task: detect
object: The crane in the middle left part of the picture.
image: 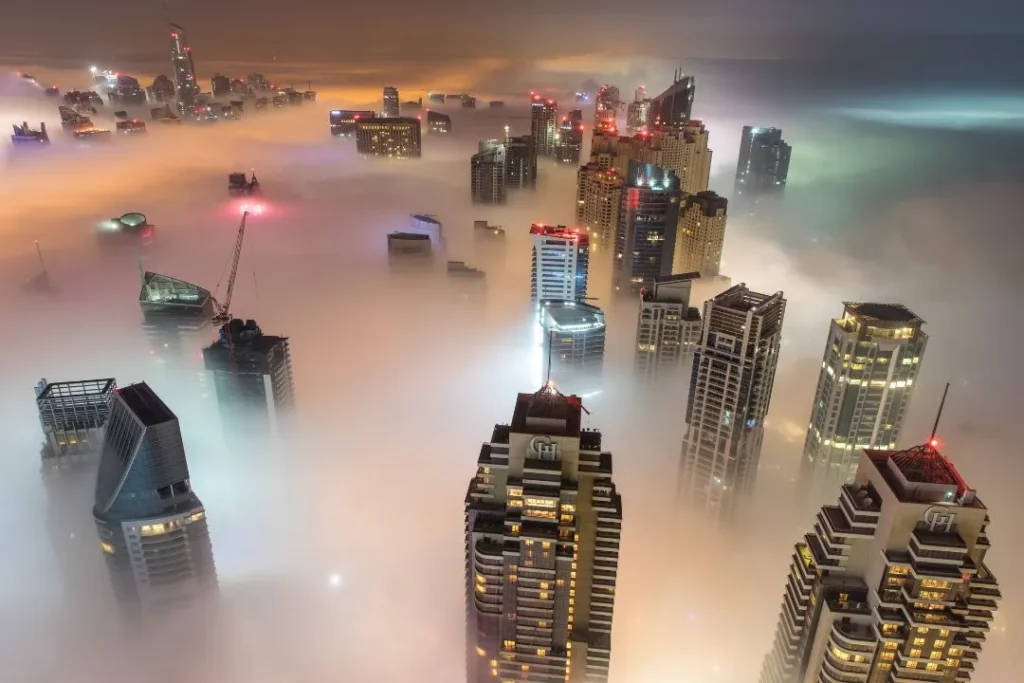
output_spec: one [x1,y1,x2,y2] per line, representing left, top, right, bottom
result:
[207,210,257,378]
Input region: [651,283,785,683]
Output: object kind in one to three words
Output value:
building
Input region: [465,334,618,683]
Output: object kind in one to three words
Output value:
building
